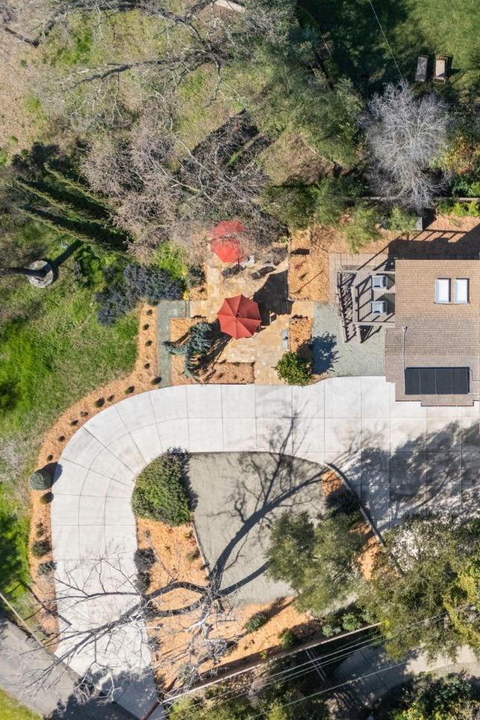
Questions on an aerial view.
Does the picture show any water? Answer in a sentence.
No, the scene doesn't show any water.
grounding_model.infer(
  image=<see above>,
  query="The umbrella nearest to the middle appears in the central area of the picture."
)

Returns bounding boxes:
[216,293,261,340]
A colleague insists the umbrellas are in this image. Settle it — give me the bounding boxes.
[208,222,245,261]
[216,293,261,340]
